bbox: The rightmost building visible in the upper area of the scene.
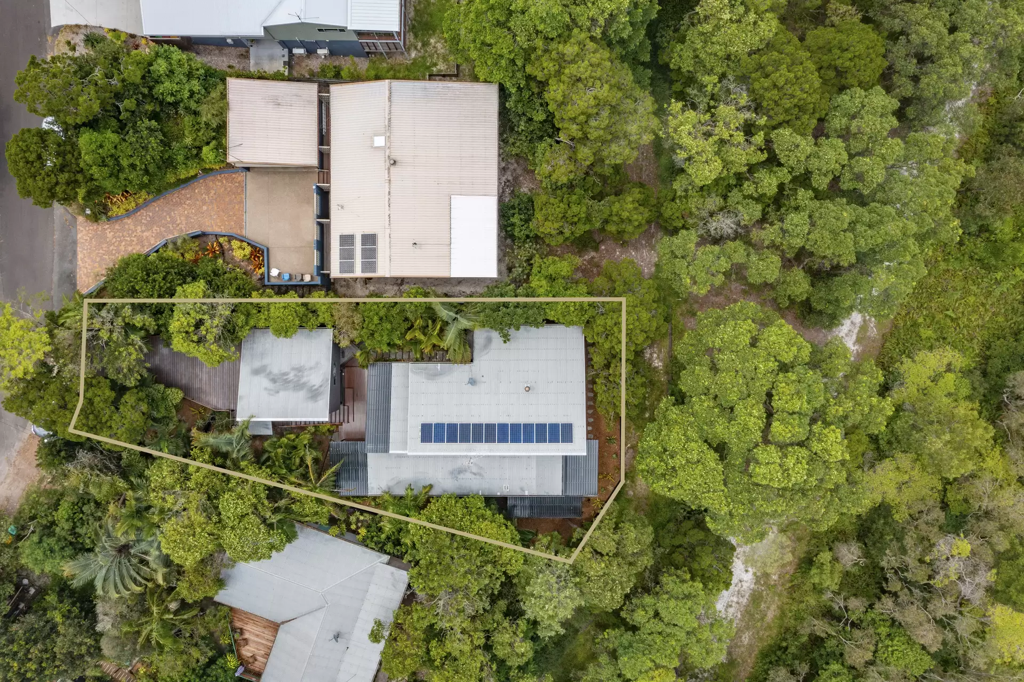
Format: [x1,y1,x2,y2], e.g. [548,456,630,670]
[329,79,500,278]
